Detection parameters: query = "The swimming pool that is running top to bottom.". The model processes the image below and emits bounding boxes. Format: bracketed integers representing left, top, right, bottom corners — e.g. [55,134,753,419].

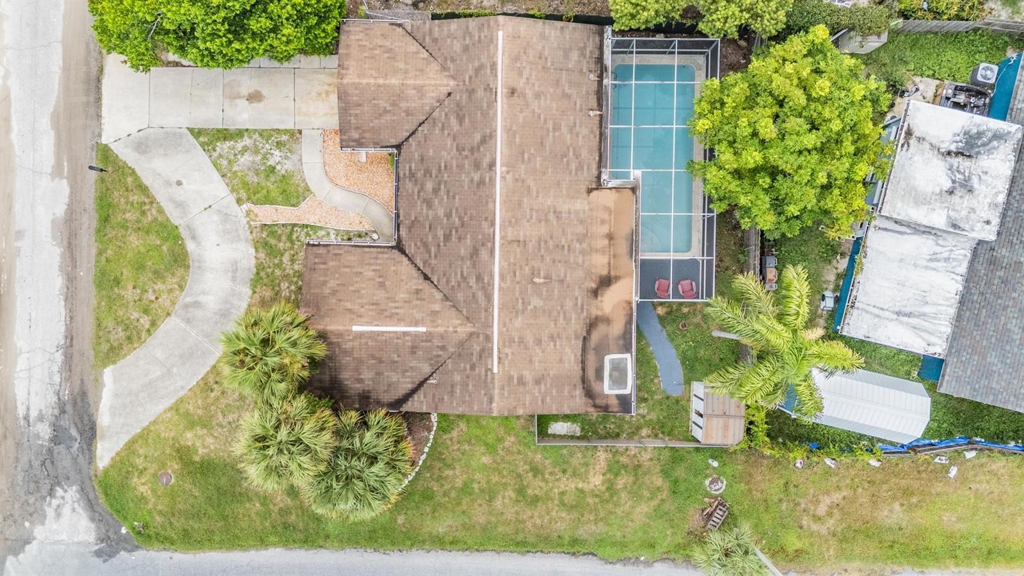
[609,60,698,256]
